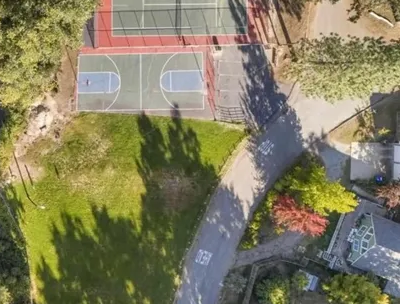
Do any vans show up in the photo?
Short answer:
No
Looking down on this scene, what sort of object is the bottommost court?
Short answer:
basketball court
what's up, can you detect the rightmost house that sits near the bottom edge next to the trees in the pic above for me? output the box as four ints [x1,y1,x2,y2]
[345,211,400,302]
